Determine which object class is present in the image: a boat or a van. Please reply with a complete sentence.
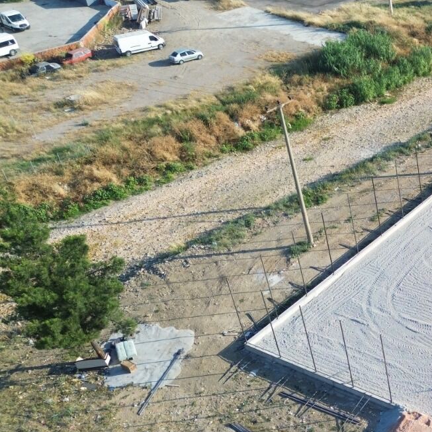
The one in the frame is a van.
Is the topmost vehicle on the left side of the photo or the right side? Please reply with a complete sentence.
You can find the topmost vehicle on the left side of the picture.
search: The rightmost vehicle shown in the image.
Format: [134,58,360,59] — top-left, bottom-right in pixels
[168,48,205,64]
